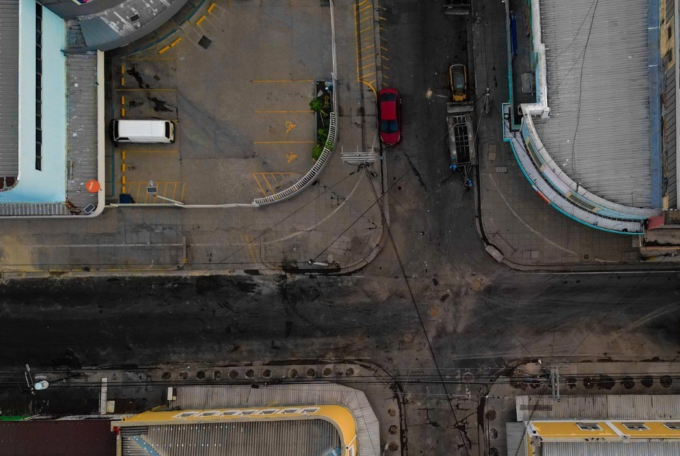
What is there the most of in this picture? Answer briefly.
paved ground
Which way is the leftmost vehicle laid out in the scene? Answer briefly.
horizontally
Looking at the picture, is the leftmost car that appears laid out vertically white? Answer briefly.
No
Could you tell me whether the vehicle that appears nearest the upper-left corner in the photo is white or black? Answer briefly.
white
